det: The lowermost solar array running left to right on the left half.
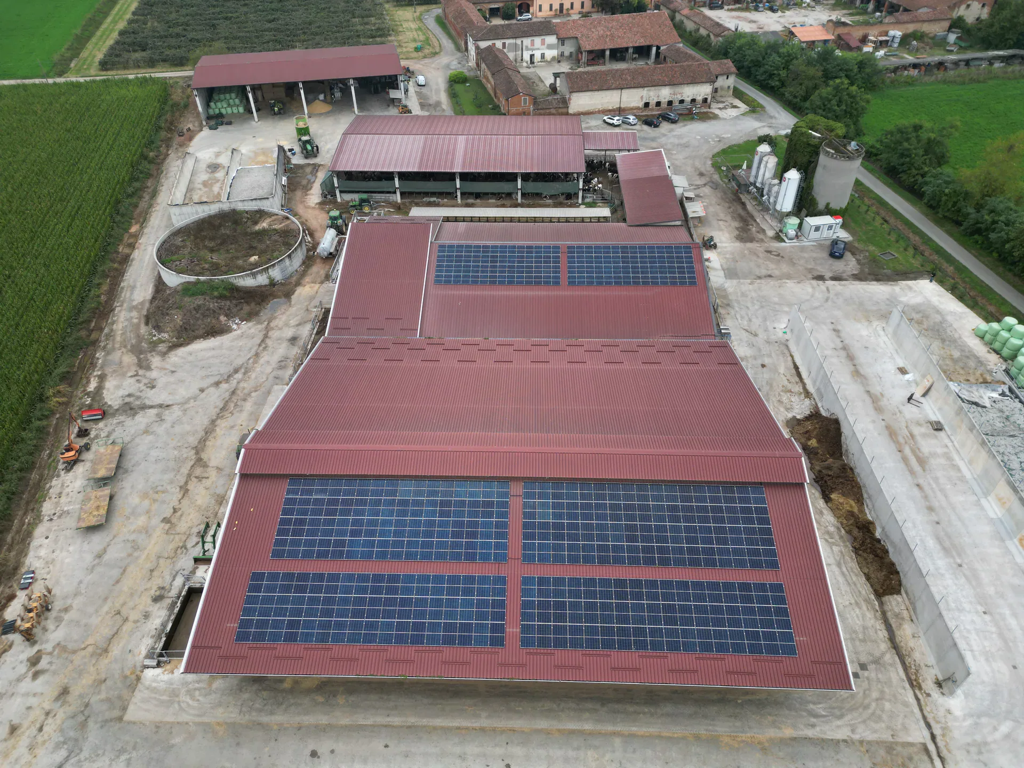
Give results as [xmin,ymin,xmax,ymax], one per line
[234,571,508,648]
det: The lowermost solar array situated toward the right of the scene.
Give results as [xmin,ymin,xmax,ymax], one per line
[519,576,797,656]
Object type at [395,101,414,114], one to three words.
vehicle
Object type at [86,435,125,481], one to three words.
trailer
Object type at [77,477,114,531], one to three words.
trailer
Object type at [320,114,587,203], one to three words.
barn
